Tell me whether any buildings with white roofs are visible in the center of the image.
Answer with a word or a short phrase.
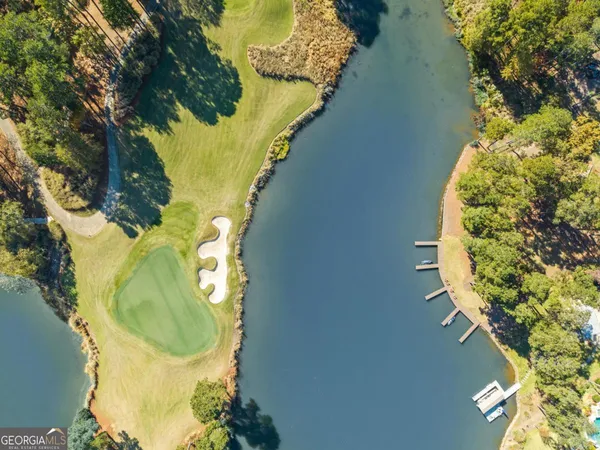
No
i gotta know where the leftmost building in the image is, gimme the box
[471,379,509,415]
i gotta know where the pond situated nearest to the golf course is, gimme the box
[0,274,94,450]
